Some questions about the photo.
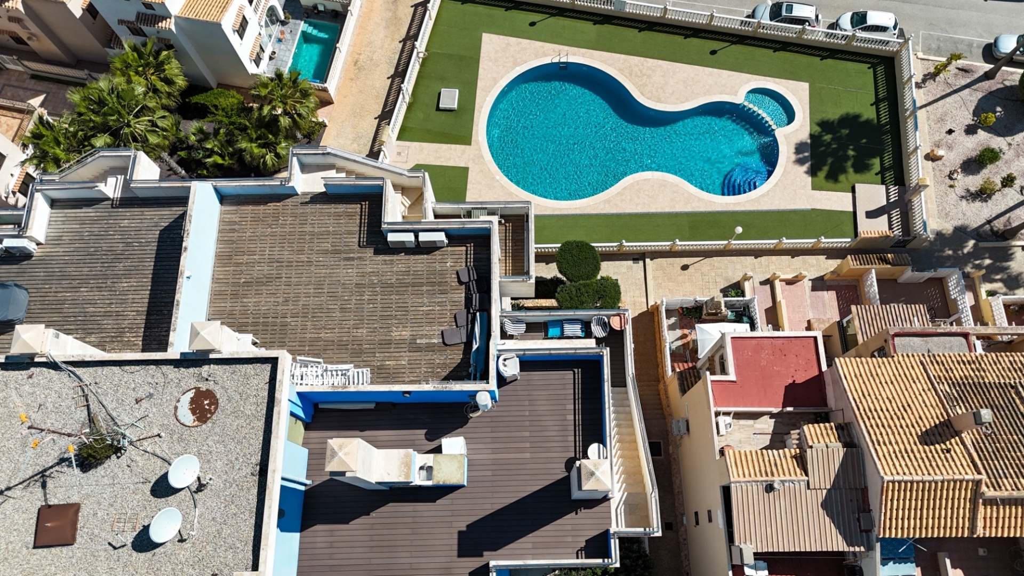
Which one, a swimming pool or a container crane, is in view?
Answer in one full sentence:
The one in the frame is a swimming pool.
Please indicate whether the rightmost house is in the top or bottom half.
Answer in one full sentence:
The bottom half of the photo is where the rightmost house is.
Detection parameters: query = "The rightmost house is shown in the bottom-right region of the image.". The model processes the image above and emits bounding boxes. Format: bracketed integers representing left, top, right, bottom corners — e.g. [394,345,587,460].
[822,319,1024,540]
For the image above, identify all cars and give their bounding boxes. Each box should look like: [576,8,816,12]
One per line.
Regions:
[984,33,1024,66]
[832,8,898,45]
[751,0,822,33]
